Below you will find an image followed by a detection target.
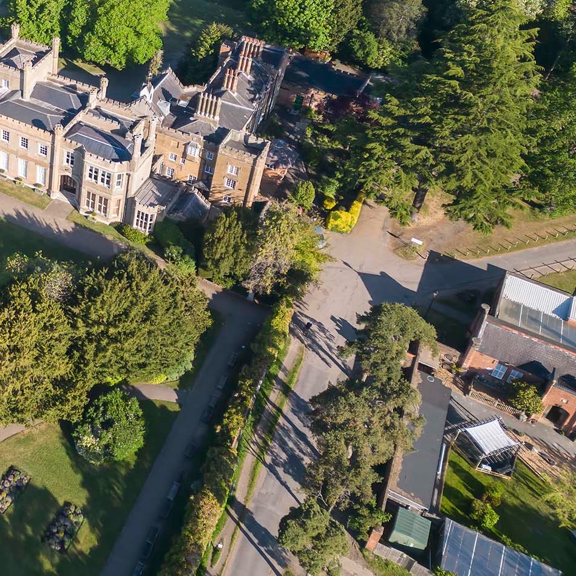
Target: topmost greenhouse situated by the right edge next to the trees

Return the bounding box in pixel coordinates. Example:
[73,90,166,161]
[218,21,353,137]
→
[489,265,576,347]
